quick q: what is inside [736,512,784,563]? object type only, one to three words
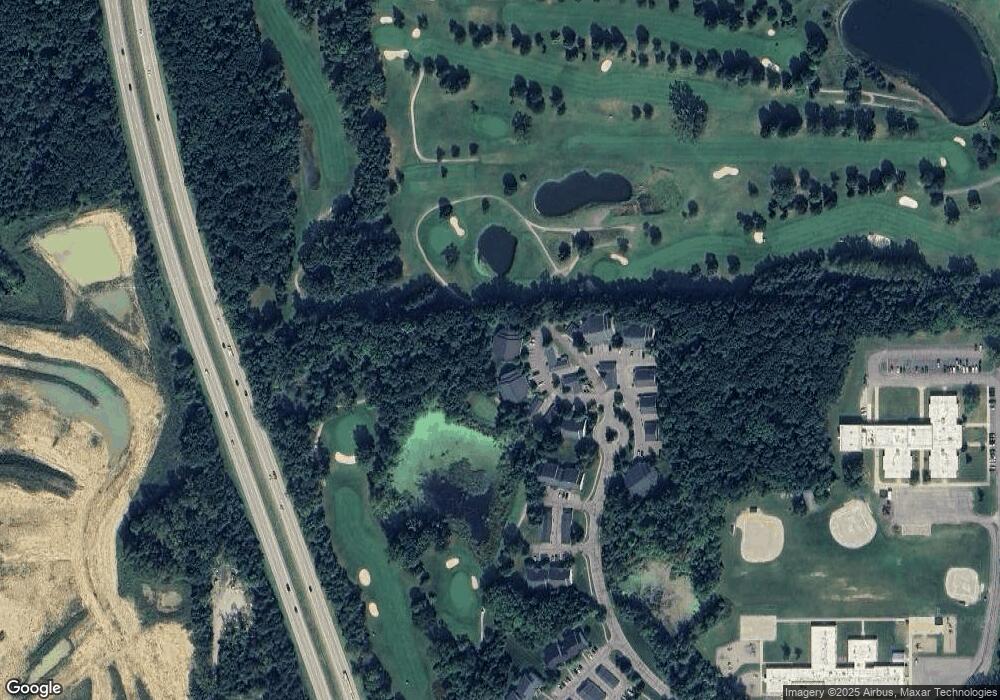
baseball field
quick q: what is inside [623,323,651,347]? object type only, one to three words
house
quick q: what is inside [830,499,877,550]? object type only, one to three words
baseball field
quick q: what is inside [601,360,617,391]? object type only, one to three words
building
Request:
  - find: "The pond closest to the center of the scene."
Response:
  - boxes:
[479,225,518,278]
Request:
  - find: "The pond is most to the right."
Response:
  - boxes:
[840,0,995,124]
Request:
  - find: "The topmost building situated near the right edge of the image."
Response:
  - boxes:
[839,394,962,478]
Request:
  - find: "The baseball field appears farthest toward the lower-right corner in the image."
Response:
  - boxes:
[946,567,979,605]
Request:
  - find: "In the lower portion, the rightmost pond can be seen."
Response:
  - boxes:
[414,458,501,542]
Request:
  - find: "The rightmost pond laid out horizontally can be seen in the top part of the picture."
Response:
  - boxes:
[534,170,632,217]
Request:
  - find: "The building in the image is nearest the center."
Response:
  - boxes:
[494,331,520,363]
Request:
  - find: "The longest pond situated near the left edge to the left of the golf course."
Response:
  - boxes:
[15,361,131,459]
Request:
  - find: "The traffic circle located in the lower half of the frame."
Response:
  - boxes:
[594,417,629,451]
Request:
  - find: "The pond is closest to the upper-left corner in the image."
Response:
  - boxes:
[43,226,120,284]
